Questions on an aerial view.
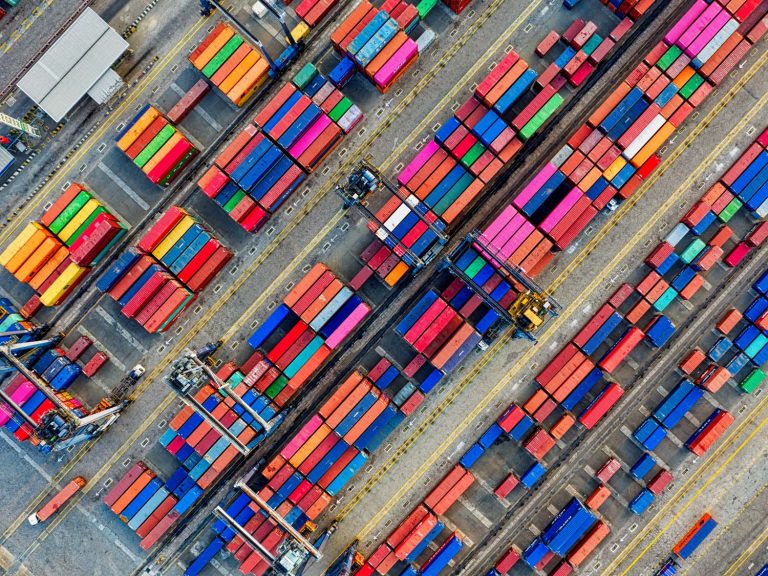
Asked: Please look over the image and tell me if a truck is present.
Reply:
Yes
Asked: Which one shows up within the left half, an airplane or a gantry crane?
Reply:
gantry crane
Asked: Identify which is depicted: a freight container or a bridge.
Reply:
freight container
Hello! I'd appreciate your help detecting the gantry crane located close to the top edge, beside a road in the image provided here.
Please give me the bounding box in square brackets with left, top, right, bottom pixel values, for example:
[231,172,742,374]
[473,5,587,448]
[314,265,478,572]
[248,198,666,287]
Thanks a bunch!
[196,0,304,83]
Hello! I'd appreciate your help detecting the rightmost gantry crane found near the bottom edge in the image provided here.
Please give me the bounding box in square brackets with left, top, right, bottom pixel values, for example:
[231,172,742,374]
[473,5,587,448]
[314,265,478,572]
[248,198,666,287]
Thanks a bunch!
[322,538,370,576]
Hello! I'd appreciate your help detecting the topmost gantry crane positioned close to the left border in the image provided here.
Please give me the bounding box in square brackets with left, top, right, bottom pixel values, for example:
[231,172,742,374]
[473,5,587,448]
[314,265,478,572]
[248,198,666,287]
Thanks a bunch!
[0,314,58,352]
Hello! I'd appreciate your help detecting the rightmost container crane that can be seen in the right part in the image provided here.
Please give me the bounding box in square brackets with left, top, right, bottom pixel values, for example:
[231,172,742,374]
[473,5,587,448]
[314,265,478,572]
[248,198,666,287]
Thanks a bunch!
[435,224,567,344]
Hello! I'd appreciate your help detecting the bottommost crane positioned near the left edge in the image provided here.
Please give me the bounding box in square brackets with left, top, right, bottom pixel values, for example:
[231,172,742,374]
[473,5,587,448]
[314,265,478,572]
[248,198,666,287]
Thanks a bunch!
[0,334,133,454]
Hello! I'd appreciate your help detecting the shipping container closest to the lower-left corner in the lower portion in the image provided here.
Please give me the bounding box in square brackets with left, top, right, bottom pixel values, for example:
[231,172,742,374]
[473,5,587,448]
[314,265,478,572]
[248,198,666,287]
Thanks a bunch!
[37,475,86,520]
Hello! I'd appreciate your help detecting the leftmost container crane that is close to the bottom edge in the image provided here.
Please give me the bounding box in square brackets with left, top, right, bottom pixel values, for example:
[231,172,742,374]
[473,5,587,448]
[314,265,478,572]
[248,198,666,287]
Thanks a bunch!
[211,452,337,576]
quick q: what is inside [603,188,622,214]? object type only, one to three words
vehicle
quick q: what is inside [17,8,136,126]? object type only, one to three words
shed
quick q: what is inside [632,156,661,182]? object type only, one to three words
shipping container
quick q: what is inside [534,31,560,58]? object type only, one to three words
shipping container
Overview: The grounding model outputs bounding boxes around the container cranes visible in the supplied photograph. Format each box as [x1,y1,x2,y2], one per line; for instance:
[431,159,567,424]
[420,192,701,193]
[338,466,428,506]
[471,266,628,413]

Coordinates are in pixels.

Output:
[196,0,304,83]
[322,538,370,576]
[0,334,133,454]
[161,338,291,458]
[339,157,455,275]
[211,452,337,576]
[0,314,58,352]
[435,224,567,344]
